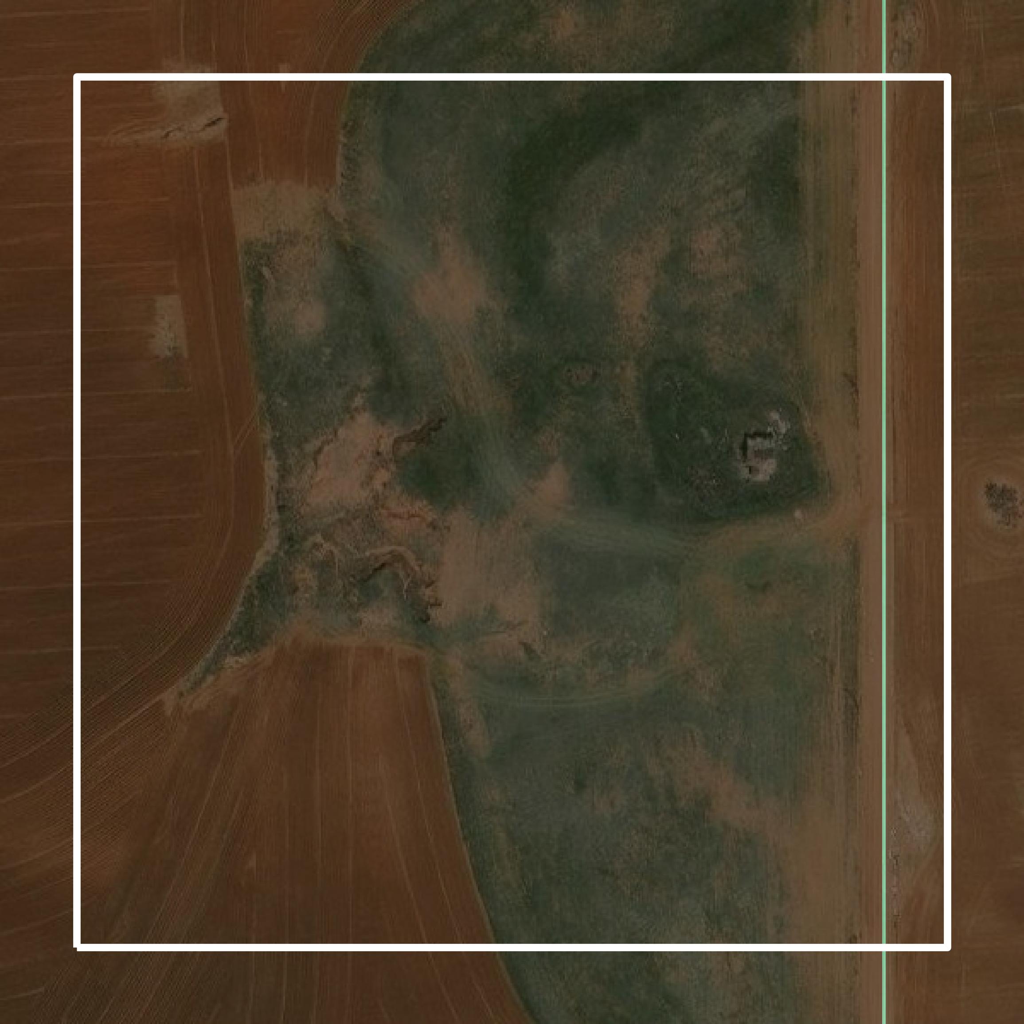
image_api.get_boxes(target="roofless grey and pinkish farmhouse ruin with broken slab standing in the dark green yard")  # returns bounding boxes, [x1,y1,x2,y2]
[736,437,777,482]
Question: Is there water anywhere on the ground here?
No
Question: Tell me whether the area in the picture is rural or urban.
rural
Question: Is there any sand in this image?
No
